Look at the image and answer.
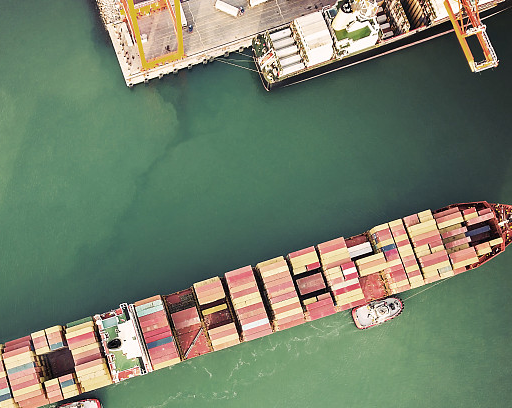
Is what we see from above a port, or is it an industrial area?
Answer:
port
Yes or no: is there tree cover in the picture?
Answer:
No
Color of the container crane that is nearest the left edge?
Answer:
yellow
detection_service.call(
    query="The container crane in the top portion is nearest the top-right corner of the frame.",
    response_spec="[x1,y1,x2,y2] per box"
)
[442,0,501,74]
